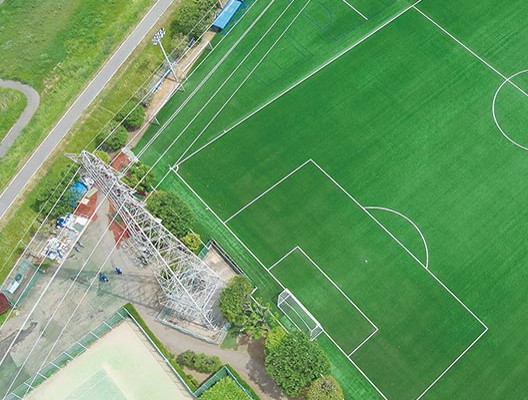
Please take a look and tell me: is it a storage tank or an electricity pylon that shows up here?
electricity pylon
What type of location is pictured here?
sports ground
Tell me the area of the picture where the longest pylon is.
left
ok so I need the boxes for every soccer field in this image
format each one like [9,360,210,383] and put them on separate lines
[124,0,417,193]
[137,0,528,400]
